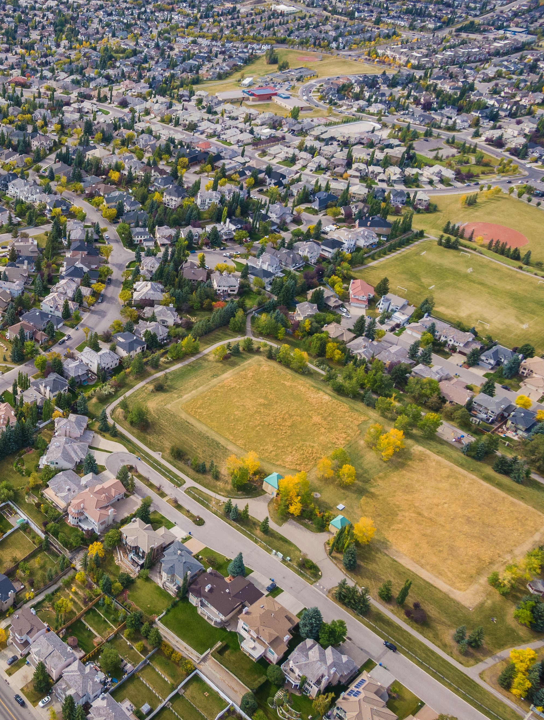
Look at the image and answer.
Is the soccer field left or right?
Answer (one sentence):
The soccer field is on the right side of the image.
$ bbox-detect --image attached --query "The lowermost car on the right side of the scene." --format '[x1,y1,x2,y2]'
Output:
[381,637,399,652]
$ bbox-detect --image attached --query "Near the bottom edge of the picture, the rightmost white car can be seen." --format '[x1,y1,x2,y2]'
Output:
[37,694,53,708]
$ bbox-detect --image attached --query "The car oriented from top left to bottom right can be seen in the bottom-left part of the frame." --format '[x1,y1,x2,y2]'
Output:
[12,691,26,707]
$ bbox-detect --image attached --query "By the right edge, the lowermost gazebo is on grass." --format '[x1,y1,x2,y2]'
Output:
[524,577,544,599]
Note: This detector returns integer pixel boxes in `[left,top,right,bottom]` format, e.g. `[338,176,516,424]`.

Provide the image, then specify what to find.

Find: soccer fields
[352,239,544,354]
